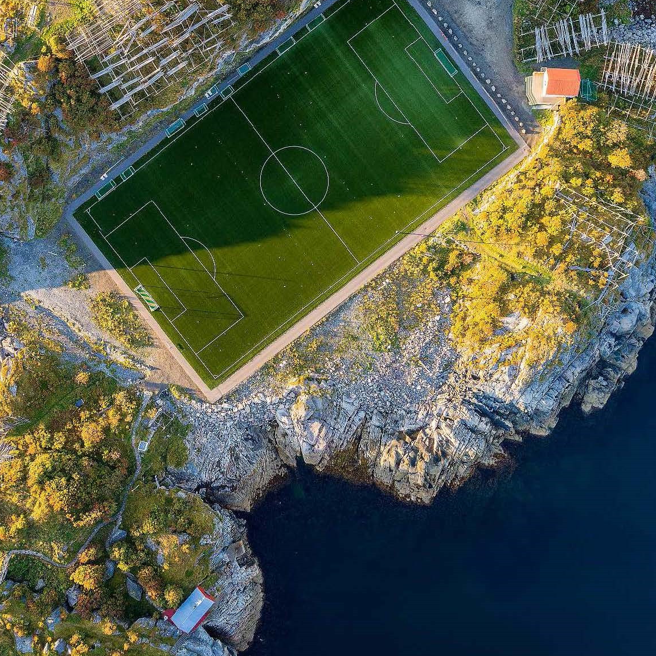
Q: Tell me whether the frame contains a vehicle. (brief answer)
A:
No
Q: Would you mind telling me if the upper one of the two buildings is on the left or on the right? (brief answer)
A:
right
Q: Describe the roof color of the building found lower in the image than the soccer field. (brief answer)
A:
blue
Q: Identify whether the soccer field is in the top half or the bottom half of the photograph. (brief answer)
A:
top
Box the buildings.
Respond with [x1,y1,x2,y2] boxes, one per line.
[526,68,582,109]
[168,583,214,630]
